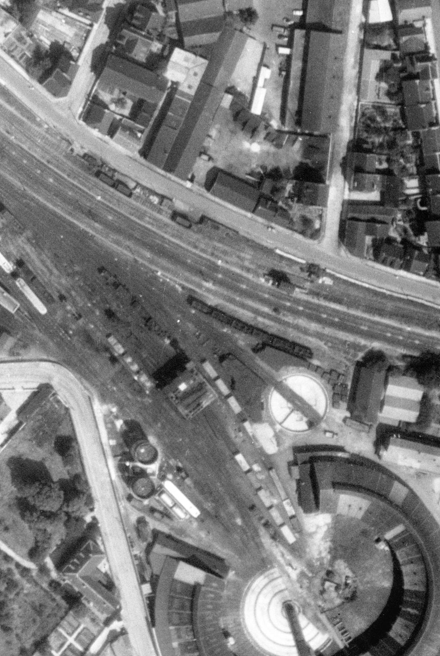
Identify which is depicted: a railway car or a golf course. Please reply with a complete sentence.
Looking from above, you can make out a railway car.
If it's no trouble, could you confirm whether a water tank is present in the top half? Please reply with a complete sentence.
No, I can find no water tank in the top half.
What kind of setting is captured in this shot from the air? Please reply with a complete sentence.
The picture captures a residential area.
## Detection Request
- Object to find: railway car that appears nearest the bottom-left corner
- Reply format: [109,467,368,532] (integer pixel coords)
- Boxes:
[164,480,199,518]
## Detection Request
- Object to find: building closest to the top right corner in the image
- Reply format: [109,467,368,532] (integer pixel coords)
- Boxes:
[393,0,434,24]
